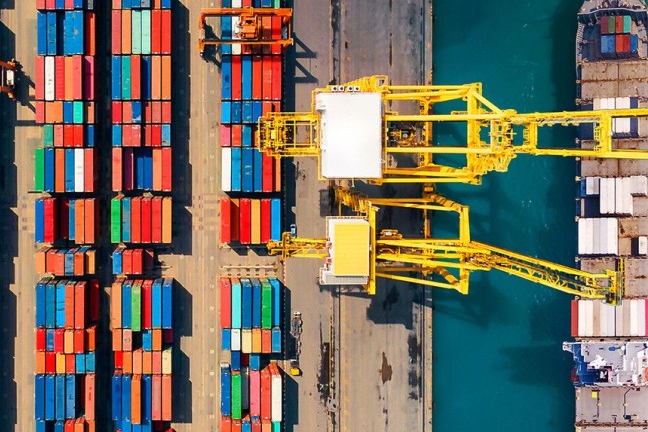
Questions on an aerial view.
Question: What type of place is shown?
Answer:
port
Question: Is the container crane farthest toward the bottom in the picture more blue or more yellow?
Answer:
yellow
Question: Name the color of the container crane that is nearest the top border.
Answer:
orange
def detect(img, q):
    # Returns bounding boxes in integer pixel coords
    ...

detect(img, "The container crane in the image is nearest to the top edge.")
[199,9,295,60]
